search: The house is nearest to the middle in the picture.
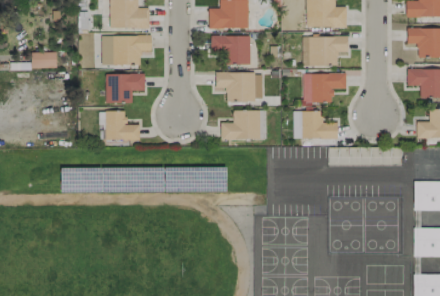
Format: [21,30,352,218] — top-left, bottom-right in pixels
[220,110,266,140]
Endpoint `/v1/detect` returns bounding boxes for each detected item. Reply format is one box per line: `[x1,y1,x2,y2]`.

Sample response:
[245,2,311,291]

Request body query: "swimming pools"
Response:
[258,8,274,27]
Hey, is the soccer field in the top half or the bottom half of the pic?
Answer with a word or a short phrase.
bottom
